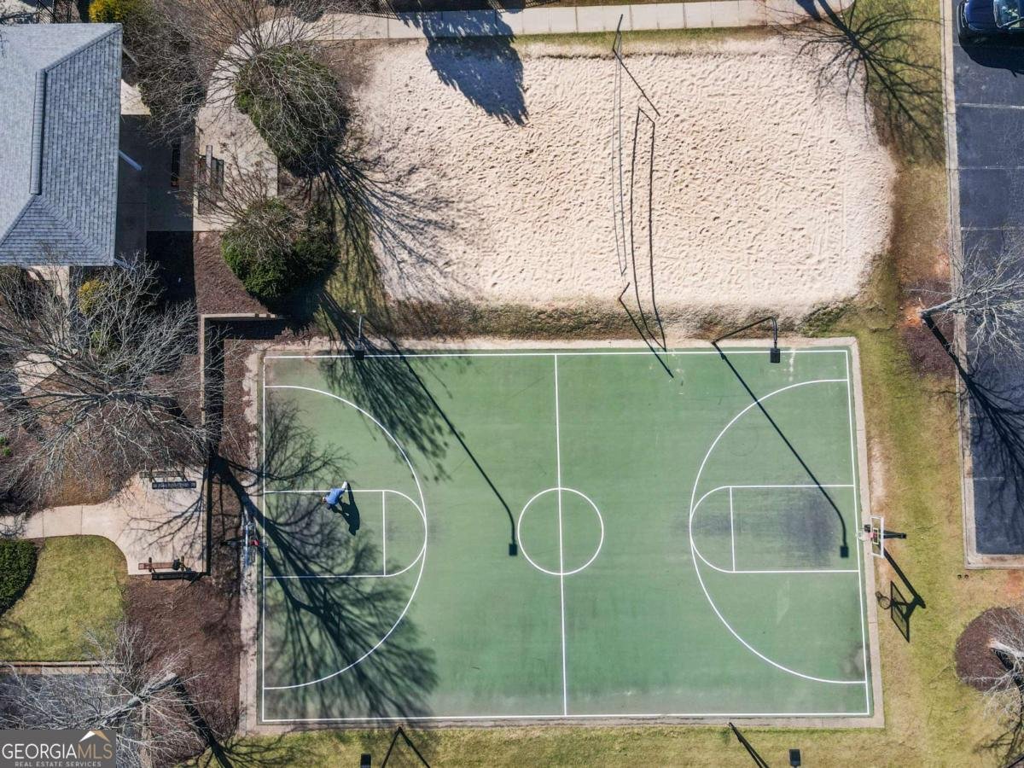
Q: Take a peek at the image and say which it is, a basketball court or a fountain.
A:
basketball court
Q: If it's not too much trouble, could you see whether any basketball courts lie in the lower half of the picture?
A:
Yes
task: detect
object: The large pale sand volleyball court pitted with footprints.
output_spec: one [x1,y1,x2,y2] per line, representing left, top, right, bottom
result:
[360,40,899,323]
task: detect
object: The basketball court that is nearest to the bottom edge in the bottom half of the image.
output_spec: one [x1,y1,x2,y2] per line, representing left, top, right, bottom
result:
[240,337,884,733]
